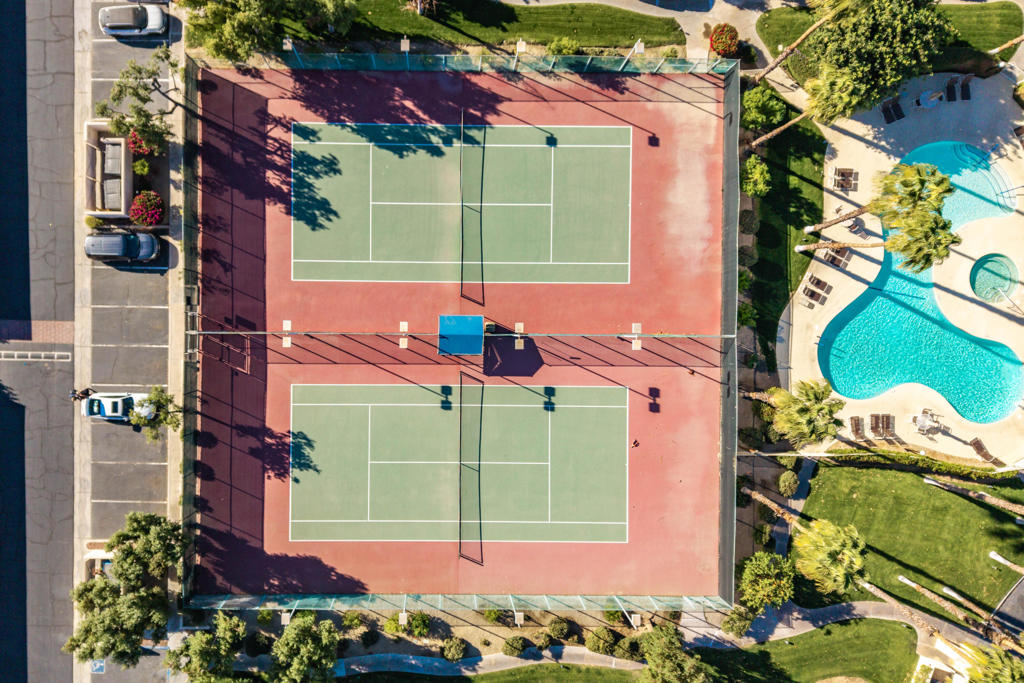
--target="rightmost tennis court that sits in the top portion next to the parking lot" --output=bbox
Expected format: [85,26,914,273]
[198,68,725,335]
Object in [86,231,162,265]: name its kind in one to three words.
car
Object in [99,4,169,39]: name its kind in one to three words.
car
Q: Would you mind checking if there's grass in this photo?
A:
Yes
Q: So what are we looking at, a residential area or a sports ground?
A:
sports ground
